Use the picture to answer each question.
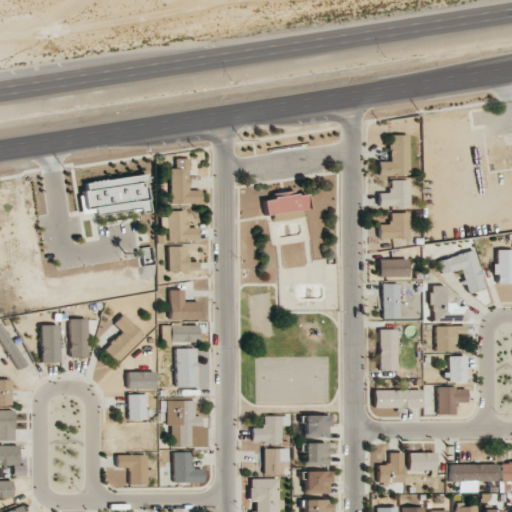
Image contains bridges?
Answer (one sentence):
No, the frame has no bridge in it.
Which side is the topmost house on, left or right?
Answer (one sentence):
The topmost house is on the right side of the image.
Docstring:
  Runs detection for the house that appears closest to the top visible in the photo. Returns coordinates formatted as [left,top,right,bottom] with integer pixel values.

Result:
[376,134,412,176]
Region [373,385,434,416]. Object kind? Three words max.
house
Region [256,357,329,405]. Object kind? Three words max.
sports court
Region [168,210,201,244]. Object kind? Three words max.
house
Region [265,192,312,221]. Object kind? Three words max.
building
